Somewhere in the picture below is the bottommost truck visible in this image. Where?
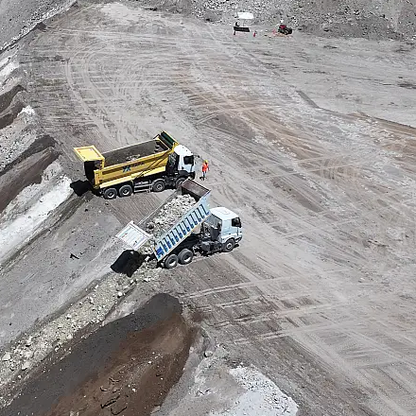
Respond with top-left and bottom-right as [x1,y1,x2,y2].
[116,181,252,268]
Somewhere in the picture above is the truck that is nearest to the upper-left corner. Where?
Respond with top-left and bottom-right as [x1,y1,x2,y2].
[66,131,200,199]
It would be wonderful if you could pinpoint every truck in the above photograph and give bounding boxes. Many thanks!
[66,131,200,199]
[116,181,252,268]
